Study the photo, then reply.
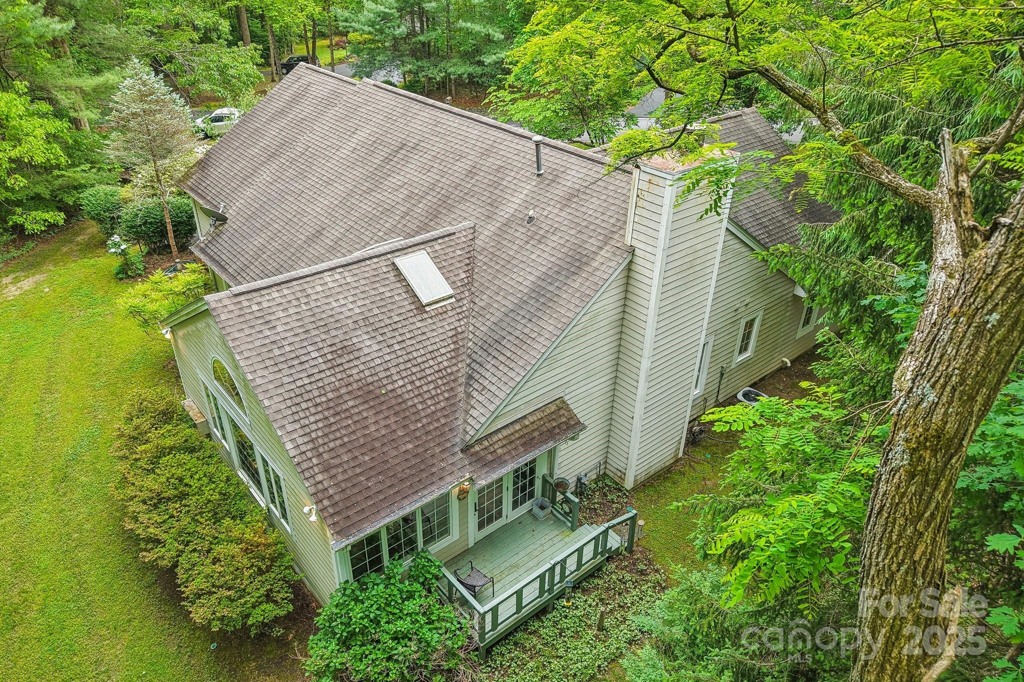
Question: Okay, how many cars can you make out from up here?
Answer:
2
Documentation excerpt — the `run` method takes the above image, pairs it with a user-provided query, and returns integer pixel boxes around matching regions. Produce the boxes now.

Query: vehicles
[188,104,250,137]
[271,39,335,68]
